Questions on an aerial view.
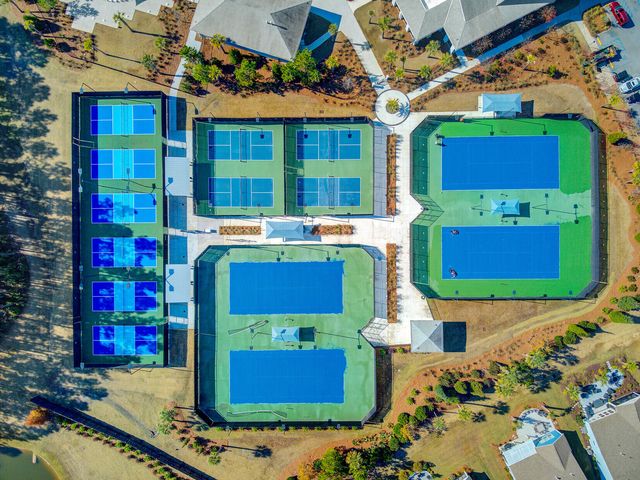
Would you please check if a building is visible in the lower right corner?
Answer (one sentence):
Yes, the scene does show a building in the lower right corner.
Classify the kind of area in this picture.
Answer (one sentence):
The picture captures a sports ground.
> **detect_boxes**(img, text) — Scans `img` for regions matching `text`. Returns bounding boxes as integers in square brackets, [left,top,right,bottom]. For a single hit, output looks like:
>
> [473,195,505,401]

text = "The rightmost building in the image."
[581,386,640,480]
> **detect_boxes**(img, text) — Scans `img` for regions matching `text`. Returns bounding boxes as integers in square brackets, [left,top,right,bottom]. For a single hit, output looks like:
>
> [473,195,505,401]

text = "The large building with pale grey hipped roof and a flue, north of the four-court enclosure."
[192,0,313,62]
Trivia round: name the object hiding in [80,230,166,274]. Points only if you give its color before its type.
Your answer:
blue sports court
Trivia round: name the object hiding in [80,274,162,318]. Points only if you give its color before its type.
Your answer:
blue sports court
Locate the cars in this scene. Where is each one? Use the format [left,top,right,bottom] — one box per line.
[620,75,640,92]
[629,89,640,102]
[617,63,640,82]
[612,0,631,24]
